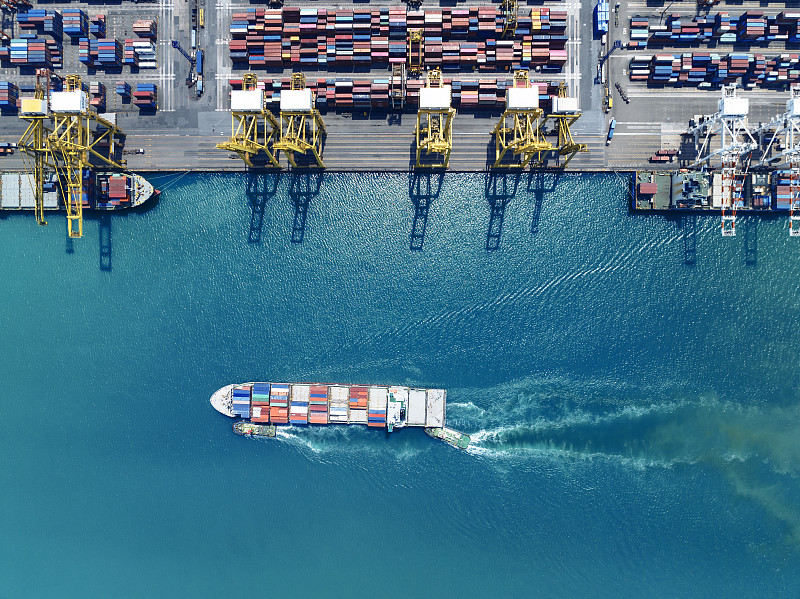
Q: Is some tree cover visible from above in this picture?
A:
No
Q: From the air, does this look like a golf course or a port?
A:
port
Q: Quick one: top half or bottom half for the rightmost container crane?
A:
top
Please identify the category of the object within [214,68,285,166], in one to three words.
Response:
container crane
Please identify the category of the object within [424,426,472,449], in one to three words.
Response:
boat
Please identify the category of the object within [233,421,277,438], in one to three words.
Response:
boat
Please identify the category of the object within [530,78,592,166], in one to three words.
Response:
container crane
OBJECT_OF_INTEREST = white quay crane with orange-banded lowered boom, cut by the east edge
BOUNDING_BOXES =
[742,71,800,240]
